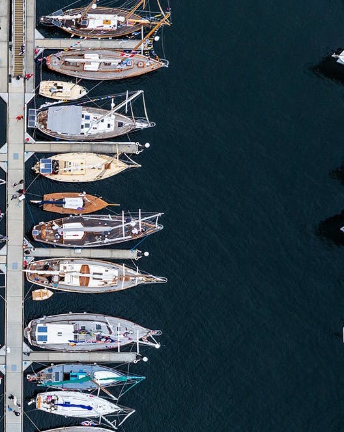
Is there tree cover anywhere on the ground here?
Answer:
No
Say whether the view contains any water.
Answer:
Yes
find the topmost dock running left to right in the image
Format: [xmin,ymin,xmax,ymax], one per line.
[36,28,145,58]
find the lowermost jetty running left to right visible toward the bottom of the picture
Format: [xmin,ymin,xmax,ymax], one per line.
[23,343,136,372]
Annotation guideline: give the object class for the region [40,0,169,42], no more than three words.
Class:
boat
